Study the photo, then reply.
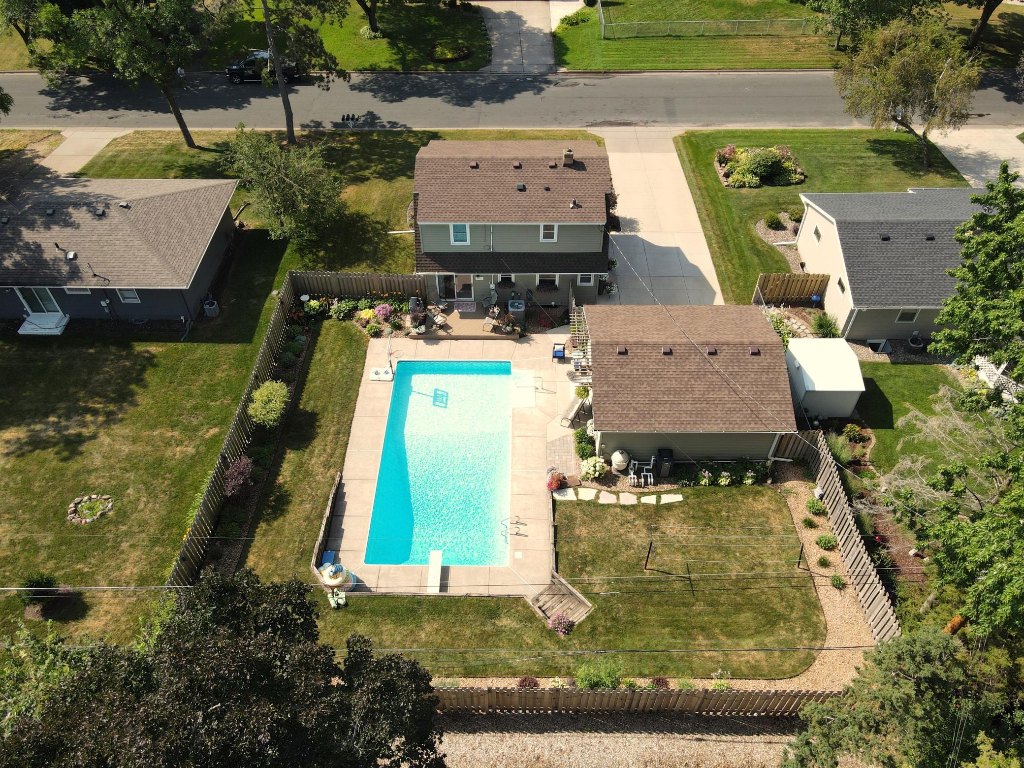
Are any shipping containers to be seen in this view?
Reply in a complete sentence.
No, I find no shipping container anywhere in the image.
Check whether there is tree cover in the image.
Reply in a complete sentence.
Yes, the picture does contain tree cover.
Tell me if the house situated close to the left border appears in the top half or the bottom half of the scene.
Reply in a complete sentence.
The top half of the photo is where the house situated close to the left border is.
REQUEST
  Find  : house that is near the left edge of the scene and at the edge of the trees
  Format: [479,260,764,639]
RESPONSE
[0,178,244,340]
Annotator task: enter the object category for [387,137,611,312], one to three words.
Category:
house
